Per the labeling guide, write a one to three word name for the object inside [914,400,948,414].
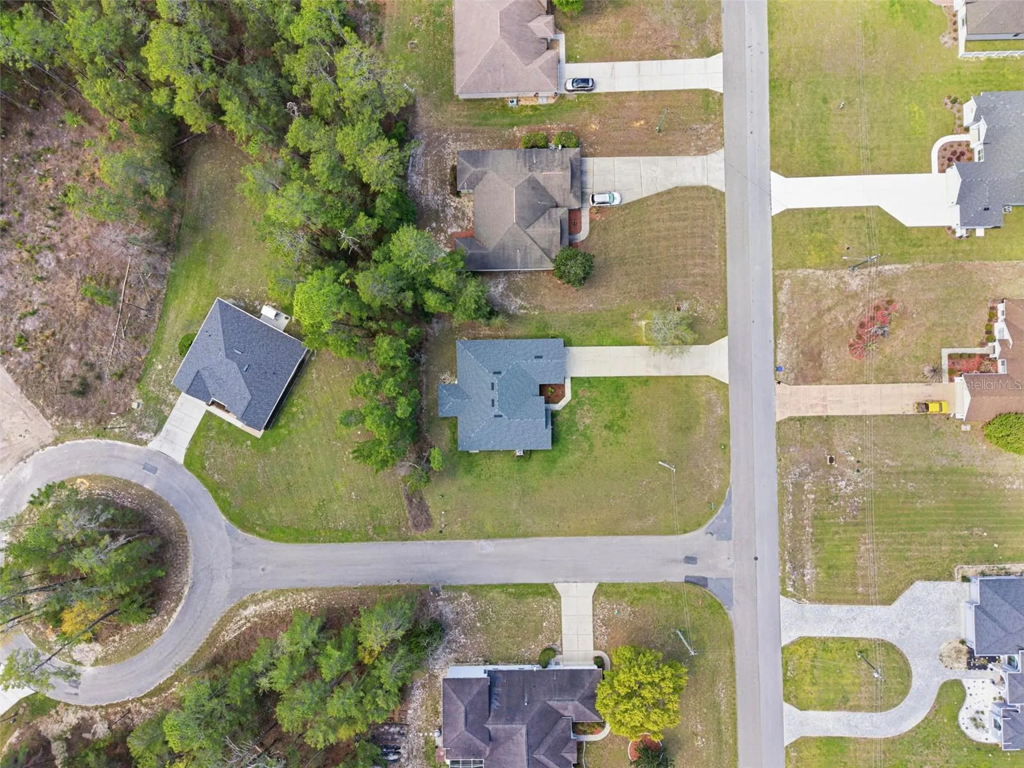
vehicle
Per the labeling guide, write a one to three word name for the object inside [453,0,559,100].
house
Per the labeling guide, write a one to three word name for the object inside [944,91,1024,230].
house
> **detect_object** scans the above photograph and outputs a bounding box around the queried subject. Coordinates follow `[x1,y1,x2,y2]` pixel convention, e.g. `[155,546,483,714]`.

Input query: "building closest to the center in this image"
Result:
[437,338,565,452]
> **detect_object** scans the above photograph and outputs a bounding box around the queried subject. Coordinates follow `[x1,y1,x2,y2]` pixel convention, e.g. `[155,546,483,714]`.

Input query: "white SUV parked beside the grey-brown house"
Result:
[590,191,621,207]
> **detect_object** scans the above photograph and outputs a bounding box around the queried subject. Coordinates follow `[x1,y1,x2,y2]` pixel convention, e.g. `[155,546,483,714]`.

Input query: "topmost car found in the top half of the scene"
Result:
[565,76,594,93]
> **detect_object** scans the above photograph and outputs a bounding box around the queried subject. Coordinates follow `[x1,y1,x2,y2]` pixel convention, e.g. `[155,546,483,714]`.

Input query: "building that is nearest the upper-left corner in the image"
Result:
[171,298,311,432]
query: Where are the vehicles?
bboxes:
[590,191,621,207]
[565,76,594,93]
[914,400,948,414]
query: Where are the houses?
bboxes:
[455,146,582,273]
[944,91,1024,230]
[953,299,1024,421]
[946,0,1024,40]
[437,338,565,452]
[453,0,559,100]
[171,298,311,432]
[964,576,1024,751]
[442,660,603,768]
